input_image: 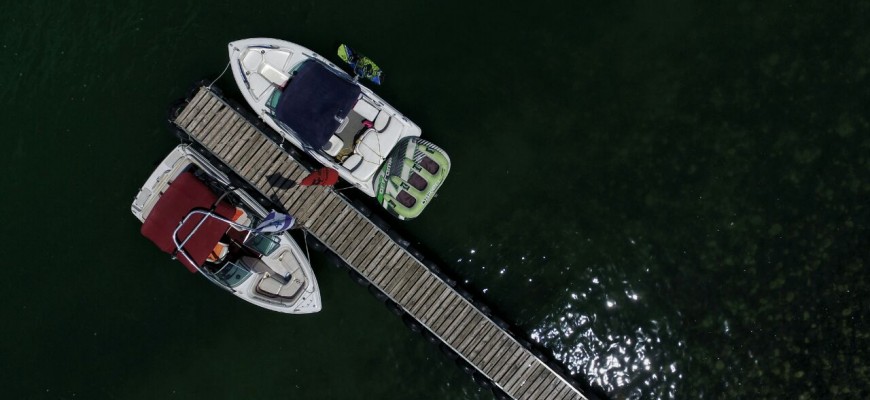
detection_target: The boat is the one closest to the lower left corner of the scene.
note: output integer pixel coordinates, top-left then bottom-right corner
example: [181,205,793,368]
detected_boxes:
[131,140,323,314]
